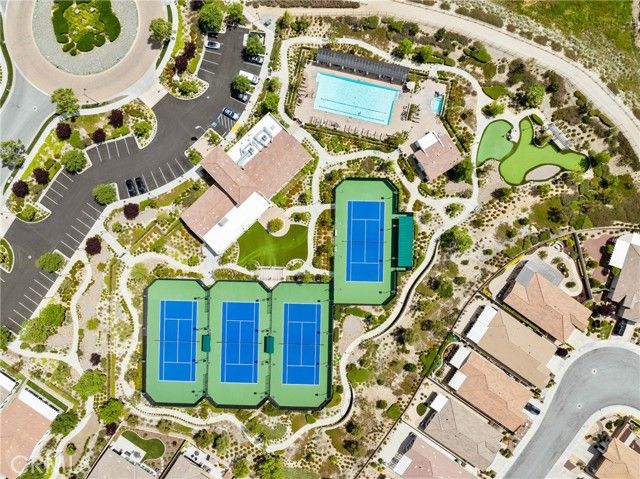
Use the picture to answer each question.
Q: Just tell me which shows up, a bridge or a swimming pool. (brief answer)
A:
swimming pool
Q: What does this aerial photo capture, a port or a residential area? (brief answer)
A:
residential area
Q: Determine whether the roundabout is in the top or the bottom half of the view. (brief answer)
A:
top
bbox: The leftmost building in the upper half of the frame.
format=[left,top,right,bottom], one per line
[181,111,313,254]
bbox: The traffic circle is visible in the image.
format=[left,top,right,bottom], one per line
[2,0,168,103]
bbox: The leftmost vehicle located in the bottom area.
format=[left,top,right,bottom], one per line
[526,402,543,415]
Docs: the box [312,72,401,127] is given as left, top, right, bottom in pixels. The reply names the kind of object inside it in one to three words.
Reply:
swimming pool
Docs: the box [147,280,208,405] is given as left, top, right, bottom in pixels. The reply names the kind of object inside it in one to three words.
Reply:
tennis court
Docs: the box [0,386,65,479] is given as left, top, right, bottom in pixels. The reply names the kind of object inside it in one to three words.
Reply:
house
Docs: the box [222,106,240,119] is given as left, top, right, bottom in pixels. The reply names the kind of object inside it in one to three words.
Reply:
vehicle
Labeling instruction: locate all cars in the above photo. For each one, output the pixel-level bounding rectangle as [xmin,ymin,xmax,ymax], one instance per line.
[222,106,240,119]
[247,54,264,65]
[614,320,626,336]
[126,179,136,196]
[526,402,543,415]
[234,91,251,103]
[204,40,221,50]
[135,176,147,194]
